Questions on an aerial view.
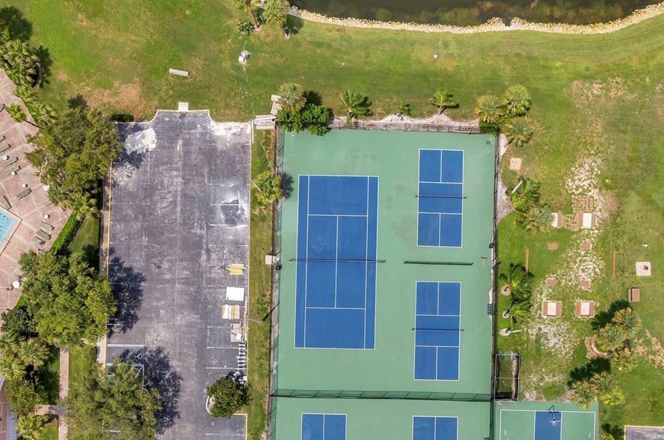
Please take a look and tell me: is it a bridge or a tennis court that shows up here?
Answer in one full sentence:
Of the two, only a tennis court appears.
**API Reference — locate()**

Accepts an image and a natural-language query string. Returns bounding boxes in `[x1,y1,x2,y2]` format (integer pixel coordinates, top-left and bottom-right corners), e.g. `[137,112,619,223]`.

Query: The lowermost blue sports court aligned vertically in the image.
[414,281,461,380]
